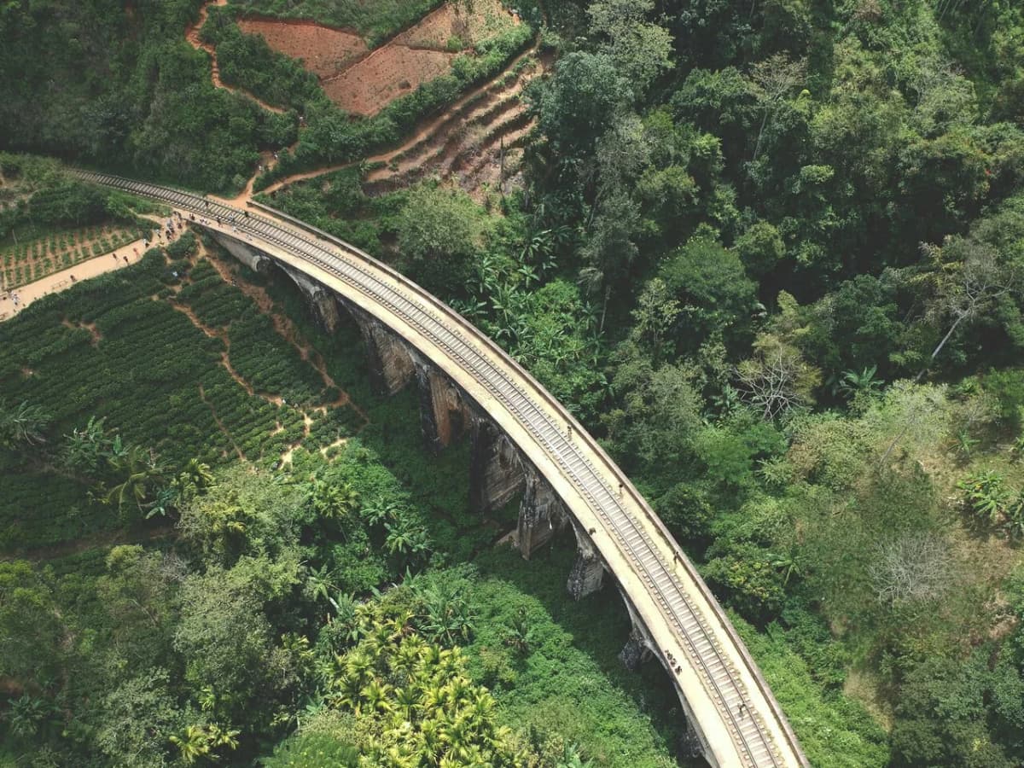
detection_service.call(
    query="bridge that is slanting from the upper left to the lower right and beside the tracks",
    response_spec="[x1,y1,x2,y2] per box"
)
[156,187,813,768]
